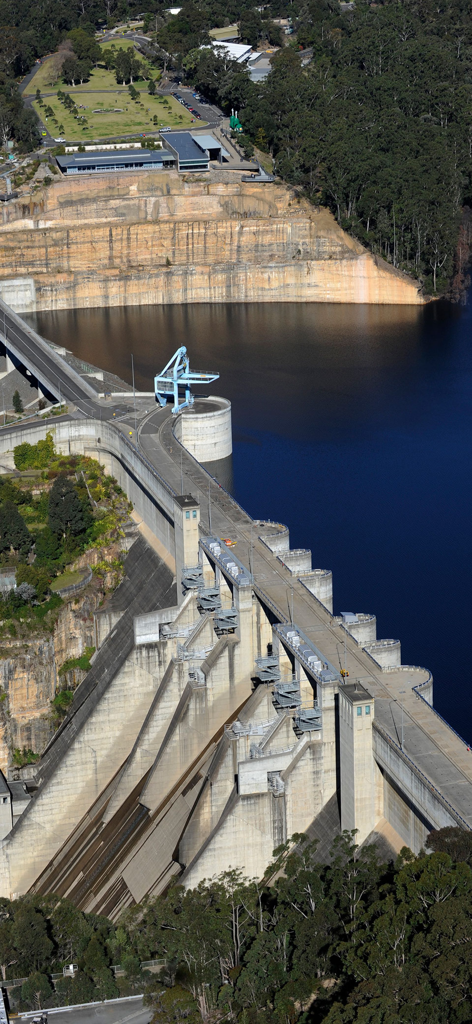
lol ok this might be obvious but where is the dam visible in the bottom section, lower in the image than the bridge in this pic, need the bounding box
[0,370,472,1010]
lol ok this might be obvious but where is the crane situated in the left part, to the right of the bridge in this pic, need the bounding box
[150,334,222,415]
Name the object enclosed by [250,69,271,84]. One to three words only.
shed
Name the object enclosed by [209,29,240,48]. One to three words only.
shed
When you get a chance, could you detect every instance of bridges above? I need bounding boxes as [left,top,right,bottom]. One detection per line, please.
[0,300,98,411]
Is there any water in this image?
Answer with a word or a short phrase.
Yes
